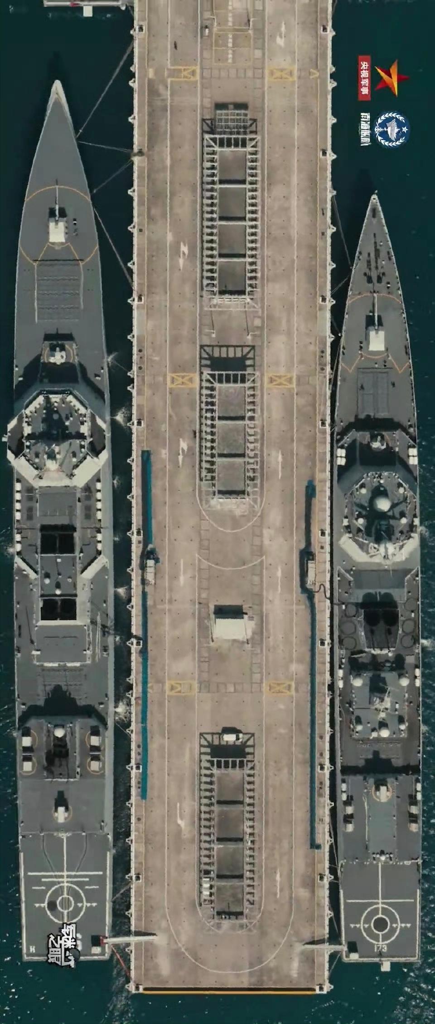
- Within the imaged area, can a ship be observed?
Yes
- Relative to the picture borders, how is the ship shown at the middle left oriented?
up and down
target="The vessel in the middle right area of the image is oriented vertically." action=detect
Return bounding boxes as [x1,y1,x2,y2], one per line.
[334,190,426,970]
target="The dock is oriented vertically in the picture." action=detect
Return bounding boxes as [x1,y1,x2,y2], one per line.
[131,0,332,993]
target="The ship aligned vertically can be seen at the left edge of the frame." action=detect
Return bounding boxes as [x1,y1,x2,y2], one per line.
[1,81,114,961]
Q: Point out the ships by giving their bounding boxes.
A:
[334,190,426,970]
[44,0,134,18]
[1,81,114,961]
